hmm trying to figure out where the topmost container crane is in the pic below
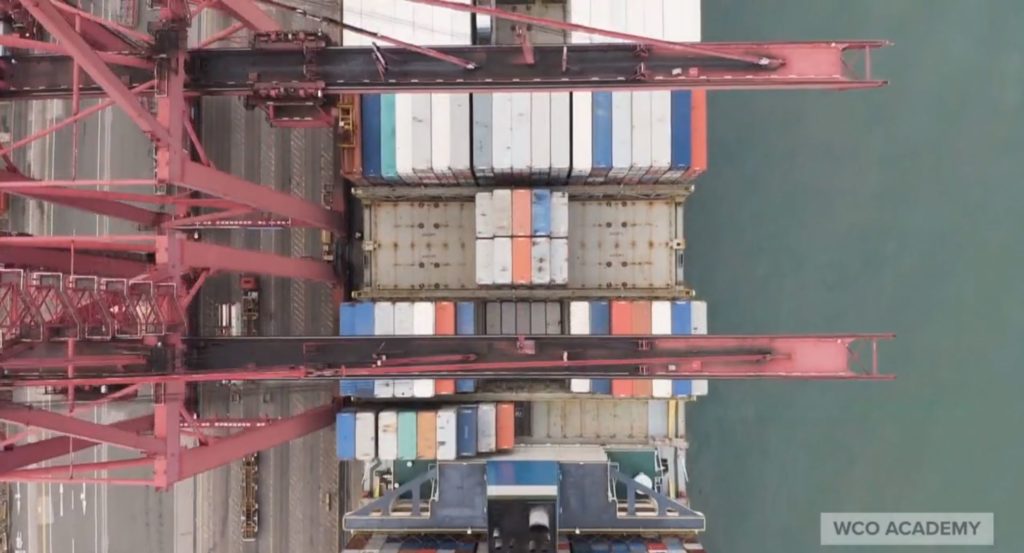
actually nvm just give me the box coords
[0,0,888,251]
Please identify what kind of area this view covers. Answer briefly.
port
